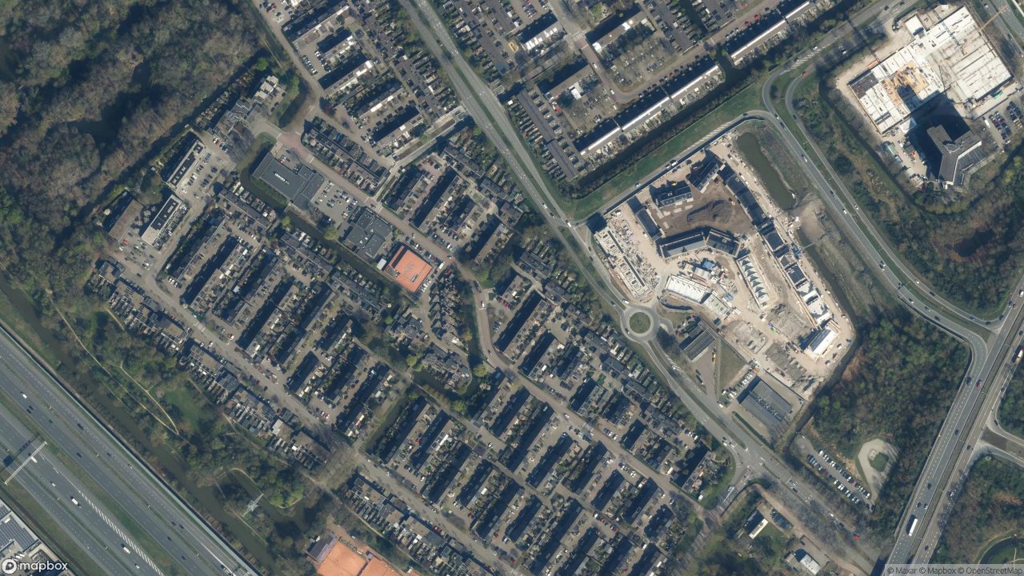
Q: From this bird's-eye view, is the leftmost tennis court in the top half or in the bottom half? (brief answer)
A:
bottom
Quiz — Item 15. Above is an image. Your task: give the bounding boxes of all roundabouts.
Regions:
[620,303,660,343]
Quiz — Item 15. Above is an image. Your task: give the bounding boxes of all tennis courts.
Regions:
[362,557,401,576]
[312,542,366,576]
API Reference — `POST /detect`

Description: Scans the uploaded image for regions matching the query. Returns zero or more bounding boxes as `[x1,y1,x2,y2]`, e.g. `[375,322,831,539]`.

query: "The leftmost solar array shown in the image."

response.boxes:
[152,199,178,230]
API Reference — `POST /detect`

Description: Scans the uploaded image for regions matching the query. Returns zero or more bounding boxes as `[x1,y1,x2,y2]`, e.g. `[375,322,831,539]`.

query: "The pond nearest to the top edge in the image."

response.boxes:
[76,60,162,148]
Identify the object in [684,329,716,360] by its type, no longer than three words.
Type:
building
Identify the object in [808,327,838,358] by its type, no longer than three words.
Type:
building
